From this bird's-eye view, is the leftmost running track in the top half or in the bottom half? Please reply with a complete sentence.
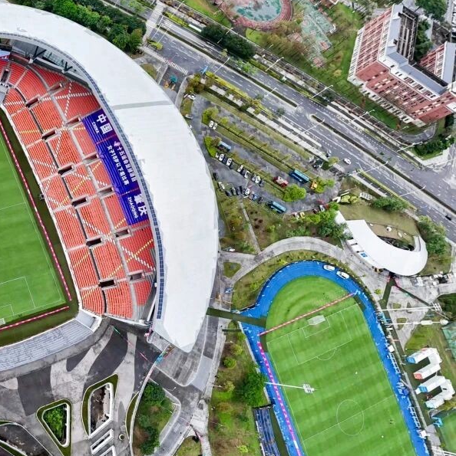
The leftmost running track is in the top half of the image.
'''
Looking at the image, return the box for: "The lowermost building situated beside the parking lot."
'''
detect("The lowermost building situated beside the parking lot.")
[335,211,428,276]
